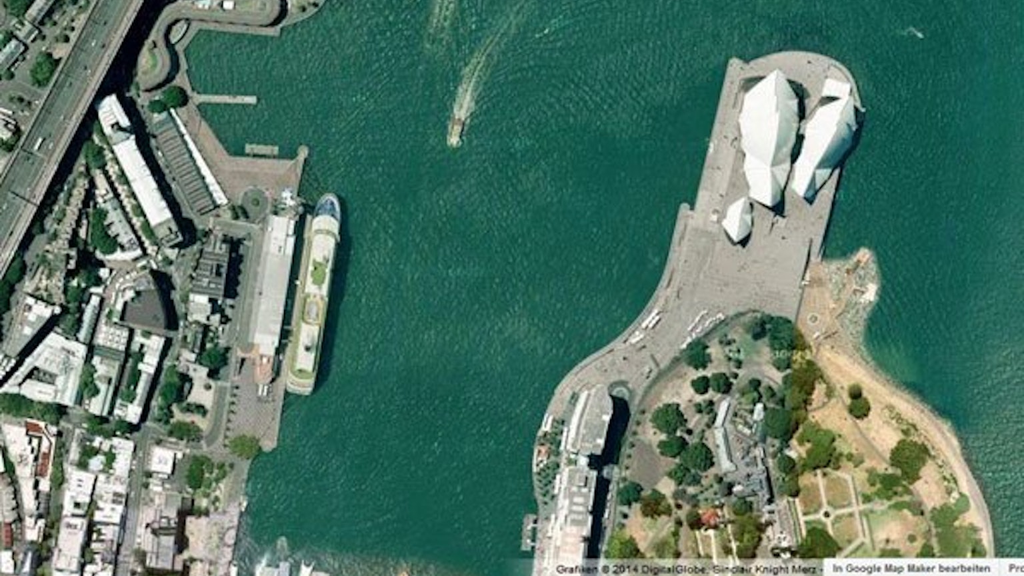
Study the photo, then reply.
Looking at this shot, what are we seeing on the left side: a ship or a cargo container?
ship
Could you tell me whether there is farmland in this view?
No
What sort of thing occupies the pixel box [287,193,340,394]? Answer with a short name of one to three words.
ship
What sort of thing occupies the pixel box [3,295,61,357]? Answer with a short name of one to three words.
building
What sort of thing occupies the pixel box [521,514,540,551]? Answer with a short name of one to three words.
pier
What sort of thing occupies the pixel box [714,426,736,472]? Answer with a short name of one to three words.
house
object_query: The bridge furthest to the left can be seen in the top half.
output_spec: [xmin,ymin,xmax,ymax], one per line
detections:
[0,0,143,276]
